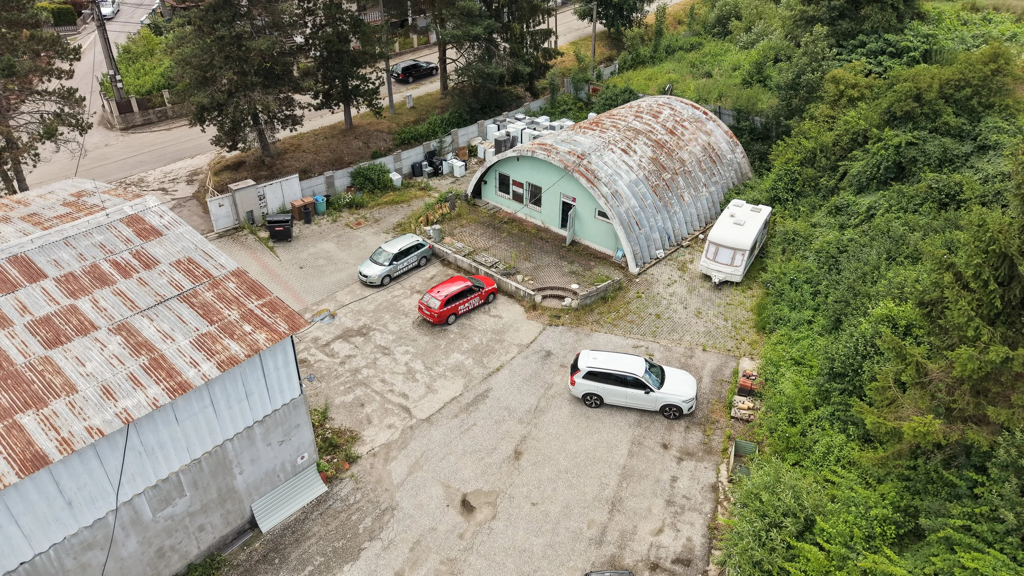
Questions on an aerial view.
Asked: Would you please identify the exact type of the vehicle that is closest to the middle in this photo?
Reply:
car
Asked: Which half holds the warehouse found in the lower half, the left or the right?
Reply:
left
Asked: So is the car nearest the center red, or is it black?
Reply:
red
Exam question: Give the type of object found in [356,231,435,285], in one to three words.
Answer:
car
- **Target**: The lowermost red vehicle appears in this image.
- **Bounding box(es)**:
[415,275,500,325]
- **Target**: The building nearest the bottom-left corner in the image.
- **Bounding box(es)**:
[0,153,318,576]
